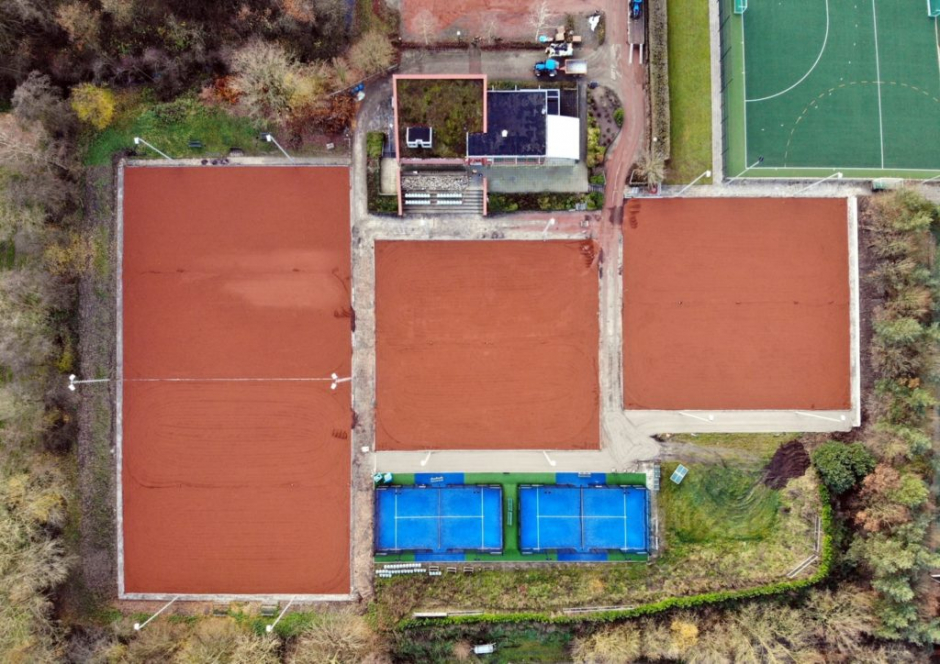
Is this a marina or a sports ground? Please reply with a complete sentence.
This image shows a sports ground.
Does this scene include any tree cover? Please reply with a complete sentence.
Yes, there is tree cover in the image.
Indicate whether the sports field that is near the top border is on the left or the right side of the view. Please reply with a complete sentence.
The sports field that is near the top border appears in the right half of the scene.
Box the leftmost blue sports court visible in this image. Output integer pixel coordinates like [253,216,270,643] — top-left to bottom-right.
[373,486,503,557]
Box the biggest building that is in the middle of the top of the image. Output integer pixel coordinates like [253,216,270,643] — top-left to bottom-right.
[394,75,578,218]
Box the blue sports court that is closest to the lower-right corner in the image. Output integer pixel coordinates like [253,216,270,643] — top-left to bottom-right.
[521,486,653,557]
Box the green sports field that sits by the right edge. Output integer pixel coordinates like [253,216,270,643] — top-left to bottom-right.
[722,0,940,179]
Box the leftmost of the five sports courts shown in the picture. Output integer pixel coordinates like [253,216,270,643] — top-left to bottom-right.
[116,163,356,602]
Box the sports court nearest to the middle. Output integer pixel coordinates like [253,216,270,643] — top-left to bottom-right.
[374,240,601,451]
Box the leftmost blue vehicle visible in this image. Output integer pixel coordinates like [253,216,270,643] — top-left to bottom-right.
[529,60,555,78]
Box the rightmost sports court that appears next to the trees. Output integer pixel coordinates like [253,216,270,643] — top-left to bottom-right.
[622,196,861,430]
